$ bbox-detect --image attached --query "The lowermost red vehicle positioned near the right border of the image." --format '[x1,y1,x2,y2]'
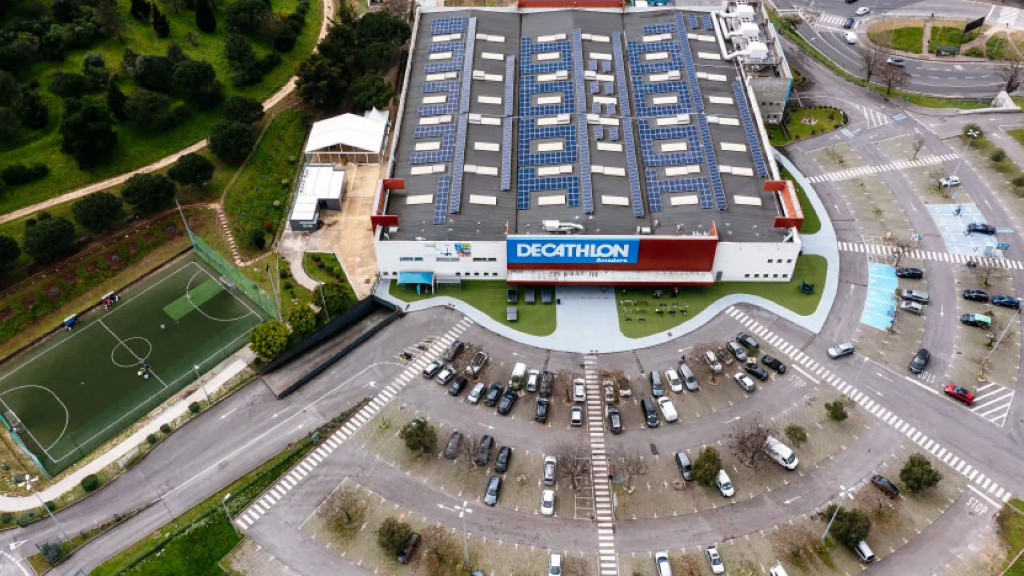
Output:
[942,383,977,406]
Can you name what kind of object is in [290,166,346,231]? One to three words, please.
building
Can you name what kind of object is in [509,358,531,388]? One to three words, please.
vehicle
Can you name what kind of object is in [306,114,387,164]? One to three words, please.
tent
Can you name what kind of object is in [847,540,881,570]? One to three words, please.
car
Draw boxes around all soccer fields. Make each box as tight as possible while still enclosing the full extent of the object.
[0,253,279,477]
